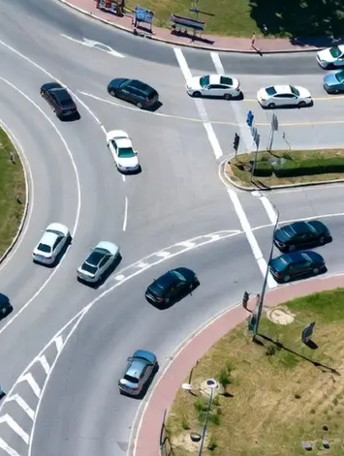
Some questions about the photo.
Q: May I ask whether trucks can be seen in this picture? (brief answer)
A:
No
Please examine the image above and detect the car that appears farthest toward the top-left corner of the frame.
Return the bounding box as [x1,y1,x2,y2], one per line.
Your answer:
[37,85,82,121]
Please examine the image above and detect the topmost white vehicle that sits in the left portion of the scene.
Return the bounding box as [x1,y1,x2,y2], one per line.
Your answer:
[107,132,136,171]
